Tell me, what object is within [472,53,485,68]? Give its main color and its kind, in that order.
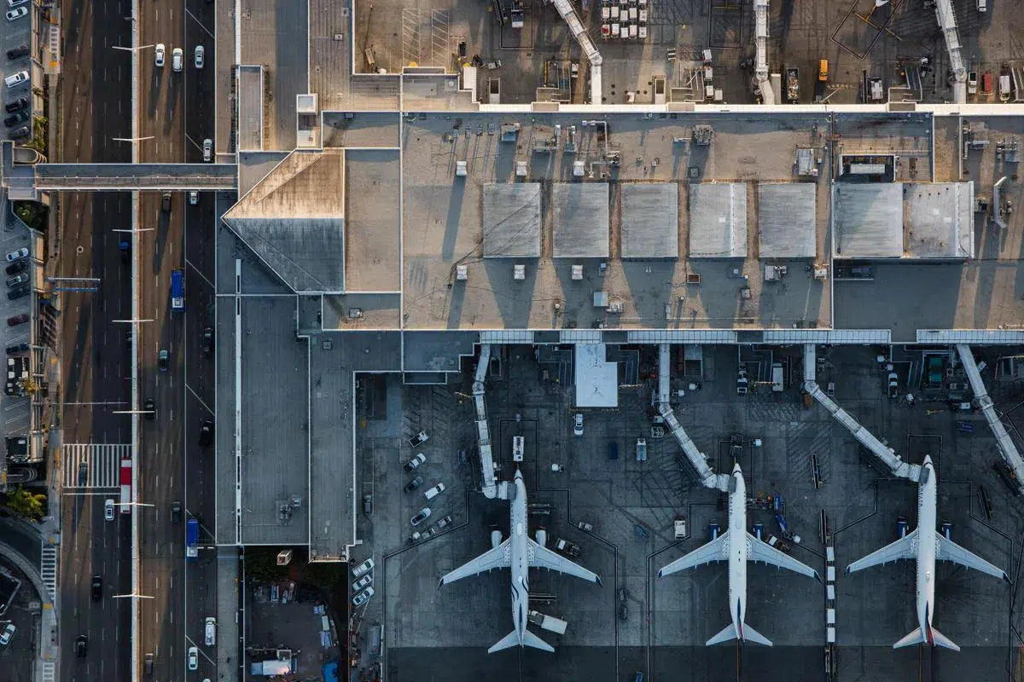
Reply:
black vehicle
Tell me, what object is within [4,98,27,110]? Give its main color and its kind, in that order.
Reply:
black vehicle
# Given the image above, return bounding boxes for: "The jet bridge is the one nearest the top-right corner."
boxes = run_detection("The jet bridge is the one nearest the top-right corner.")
[926,0,968,103]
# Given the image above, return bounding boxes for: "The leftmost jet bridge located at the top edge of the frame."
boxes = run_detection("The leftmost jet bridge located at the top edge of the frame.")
[541,0,603,103]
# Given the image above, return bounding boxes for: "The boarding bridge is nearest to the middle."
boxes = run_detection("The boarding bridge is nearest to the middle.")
[473,344,516,499]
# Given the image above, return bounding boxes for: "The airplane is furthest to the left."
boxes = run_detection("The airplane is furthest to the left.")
[438,470,602,656]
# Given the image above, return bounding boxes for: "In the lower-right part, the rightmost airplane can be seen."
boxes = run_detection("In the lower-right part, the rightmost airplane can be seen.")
[848,456,1013,656]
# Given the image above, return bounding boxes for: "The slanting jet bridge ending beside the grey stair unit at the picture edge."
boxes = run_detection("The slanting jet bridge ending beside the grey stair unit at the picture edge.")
[955,345,1024,496]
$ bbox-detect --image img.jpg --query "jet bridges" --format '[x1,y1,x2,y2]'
[801,345,927,482]
[541,0,603,103]
[473,344,516,499]
[656,345,737,493]
[955,345,1024,496]
[748,0,773,103]
[926,0,968,103]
